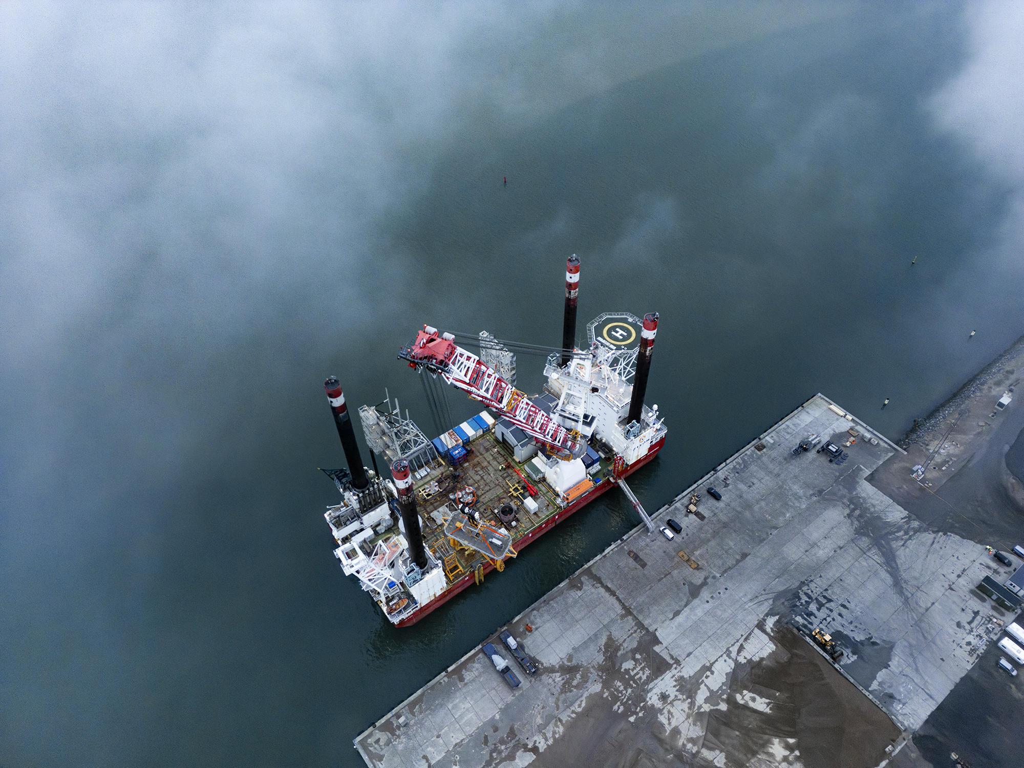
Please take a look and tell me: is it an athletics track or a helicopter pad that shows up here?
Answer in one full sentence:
This aerial view contains a helicopter pad.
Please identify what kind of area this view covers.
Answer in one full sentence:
The picture captures a port.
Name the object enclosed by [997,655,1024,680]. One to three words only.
vehicle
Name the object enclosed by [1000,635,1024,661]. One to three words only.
camper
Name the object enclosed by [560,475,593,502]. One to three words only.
boat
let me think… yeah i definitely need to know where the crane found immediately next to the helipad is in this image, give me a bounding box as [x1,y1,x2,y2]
[398,317,607,519]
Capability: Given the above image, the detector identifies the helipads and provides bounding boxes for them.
[587,311,645,379]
